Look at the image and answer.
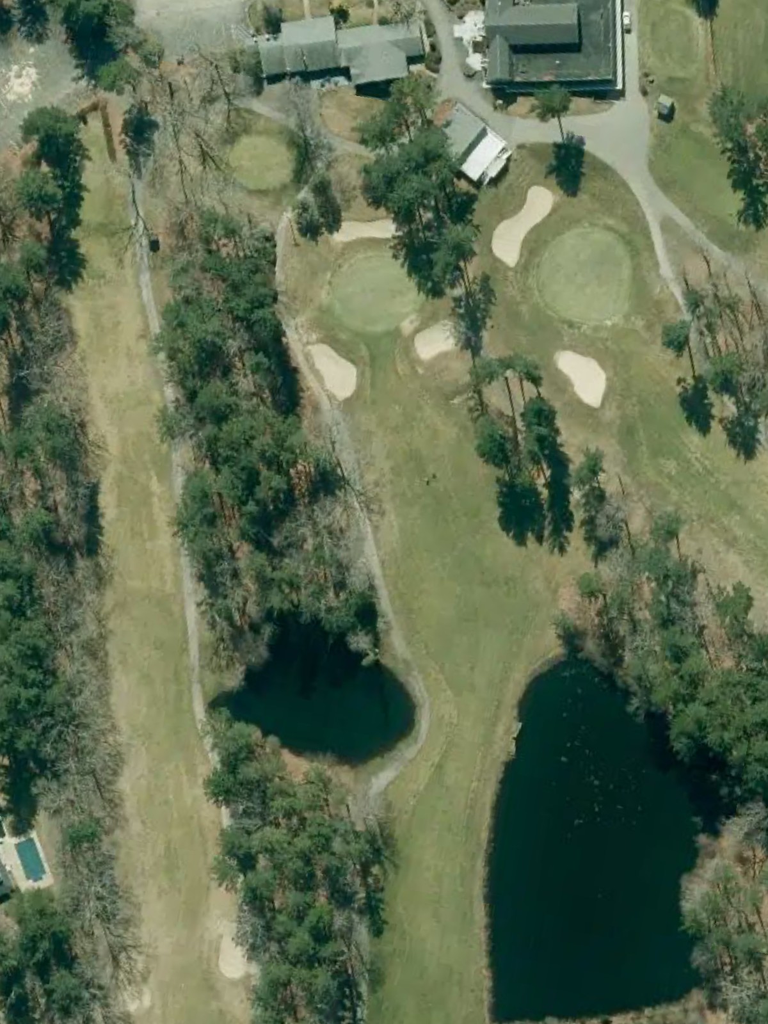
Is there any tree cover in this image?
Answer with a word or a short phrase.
Yes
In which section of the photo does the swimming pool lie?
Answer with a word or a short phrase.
bottom left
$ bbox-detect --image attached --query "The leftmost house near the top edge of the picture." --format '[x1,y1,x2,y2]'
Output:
[257,17,425,85]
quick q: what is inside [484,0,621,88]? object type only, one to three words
building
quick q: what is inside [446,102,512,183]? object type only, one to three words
building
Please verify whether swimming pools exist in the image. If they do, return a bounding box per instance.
[0,831,53,892]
